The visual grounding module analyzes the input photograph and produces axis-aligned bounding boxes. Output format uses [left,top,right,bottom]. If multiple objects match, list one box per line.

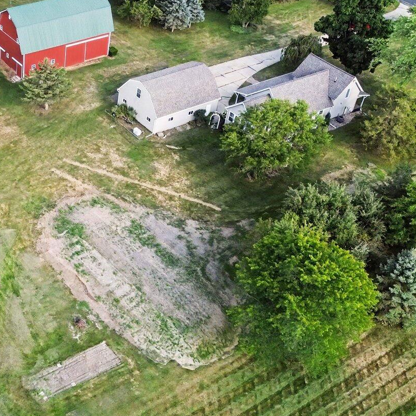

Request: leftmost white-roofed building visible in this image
[0,0,115,79]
